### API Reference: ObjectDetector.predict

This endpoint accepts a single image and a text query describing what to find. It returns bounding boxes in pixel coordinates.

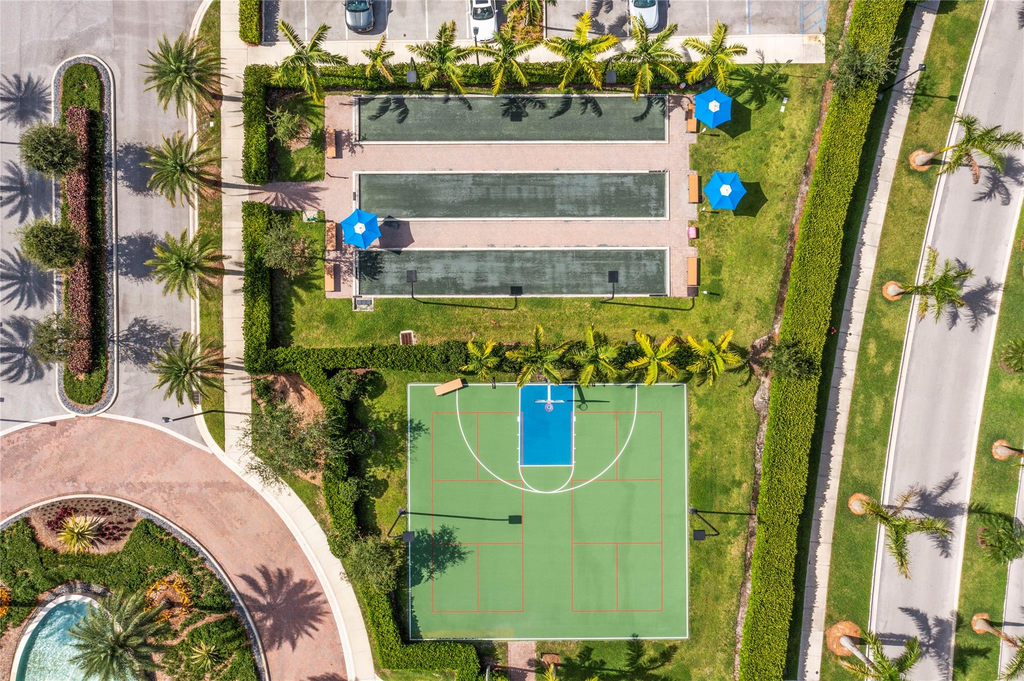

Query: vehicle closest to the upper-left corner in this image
[336,0,372,33]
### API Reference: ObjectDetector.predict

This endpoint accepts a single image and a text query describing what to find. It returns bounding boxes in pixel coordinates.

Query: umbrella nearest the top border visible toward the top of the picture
[693,87,731,131]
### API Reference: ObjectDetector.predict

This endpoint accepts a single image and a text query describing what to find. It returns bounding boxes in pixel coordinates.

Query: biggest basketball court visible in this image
[407,382,691,643]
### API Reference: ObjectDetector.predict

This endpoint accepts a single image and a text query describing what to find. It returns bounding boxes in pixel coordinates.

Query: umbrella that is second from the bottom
[701,172,745,211]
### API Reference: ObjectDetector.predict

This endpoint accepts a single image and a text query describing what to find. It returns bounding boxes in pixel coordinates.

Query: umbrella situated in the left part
[341,208,382,251]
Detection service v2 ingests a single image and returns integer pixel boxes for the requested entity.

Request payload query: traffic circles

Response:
[0,413,347,681]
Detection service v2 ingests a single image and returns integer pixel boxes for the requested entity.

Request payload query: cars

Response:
[466,0,501,45]
[629,0,664,32]
[336,0,372,33]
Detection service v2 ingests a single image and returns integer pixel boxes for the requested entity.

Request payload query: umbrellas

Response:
[701,172,745,211]
[693,87,731,131]
[341,208,382,251]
